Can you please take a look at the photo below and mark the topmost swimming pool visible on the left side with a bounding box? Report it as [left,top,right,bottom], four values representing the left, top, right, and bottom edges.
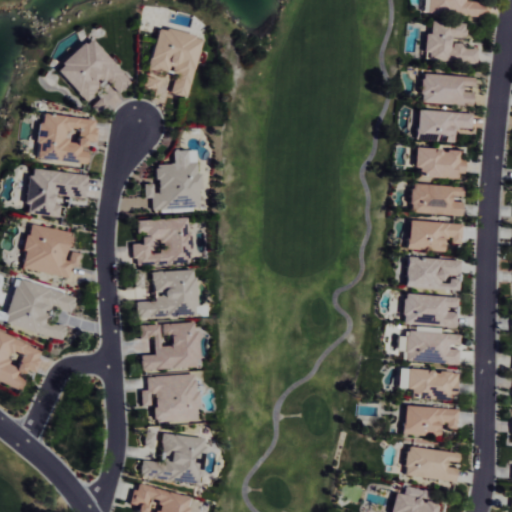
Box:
[168,13,192,27]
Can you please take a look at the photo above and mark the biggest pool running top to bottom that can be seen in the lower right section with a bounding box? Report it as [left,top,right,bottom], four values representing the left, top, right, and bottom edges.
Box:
[384,445,396,473]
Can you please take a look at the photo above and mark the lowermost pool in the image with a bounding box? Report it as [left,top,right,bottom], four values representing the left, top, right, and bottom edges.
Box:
[366,493,388,506]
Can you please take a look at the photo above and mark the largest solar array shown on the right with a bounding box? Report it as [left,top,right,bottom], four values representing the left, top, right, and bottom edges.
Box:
[414,348,446,364]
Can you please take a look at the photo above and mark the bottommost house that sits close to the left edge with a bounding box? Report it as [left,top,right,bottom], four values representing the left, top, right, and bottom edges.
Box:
[0,330,40,392]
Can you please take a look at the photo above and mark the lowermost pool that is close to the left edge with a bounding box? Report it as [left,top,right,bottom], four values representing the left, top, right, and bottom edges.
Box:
[0,226,18,251]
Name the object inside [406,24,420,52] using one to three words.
swimming pool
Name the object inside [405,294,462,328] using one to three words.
house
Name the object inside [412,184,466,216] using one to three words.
house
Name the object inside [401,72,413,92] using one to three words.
swimming pool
